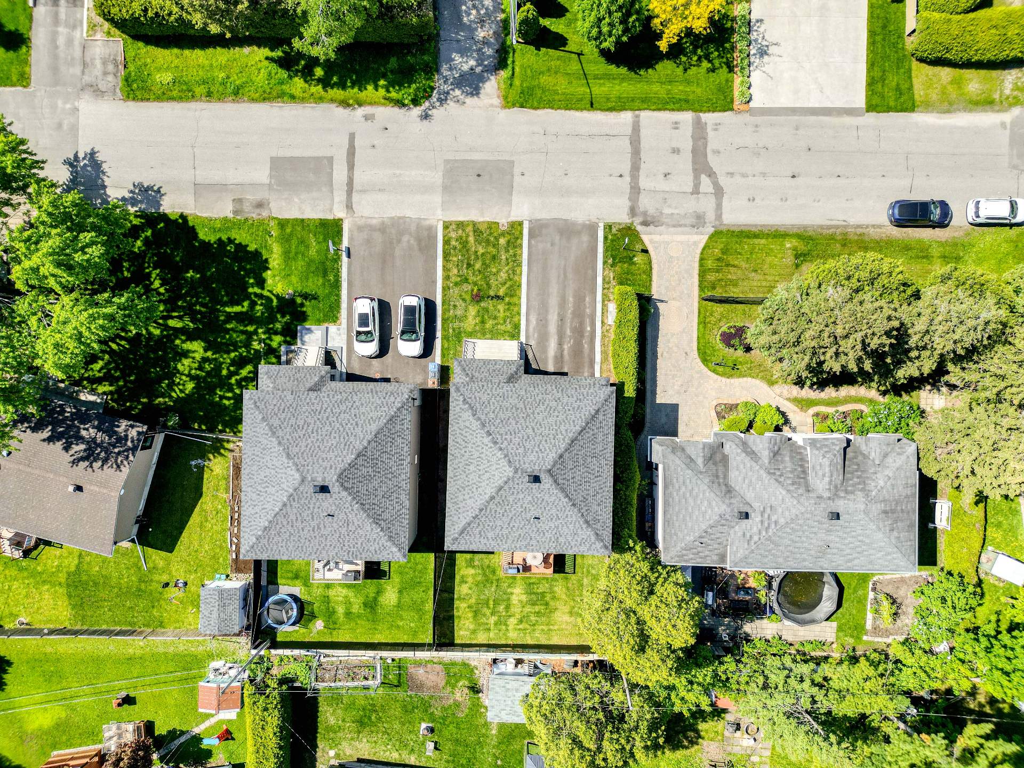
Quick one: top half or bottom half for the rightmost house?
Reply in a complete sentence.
Seen from above, the rightmost house lies in the bottom half of the view.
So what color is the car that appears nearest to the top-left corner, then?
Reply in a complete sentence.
The color of the car that appears nearest to the top-left corner is white.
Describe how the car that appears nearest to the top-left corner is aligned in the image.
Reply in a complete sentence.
From this overhead view, the car that appears nearest to the top-left corner appears to run vertically.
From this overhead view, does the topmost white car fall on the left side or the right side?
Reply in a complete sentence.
The topmost white car sits on the right side.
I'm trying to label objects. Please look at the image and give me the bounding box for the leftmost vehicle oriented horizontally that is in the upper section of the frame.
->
[883,195,951,228]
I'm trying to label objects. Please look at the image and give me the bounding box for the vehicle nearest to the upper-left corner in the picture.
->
[349,294,380,357]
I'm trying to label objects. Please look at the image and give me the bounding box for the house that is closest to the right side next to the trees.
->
[647,430,918,573]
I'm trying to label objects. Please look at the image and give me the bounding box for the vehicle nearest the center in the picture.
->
[394,293,426,358]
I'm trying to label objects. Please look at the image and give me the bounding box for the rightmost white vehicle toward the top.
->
[962,194,1024,226]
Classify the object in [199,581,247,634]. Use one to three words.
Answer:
shed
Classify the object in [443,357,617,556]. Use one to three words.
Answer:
house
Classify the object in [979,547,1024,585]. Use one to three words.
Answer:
trailer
